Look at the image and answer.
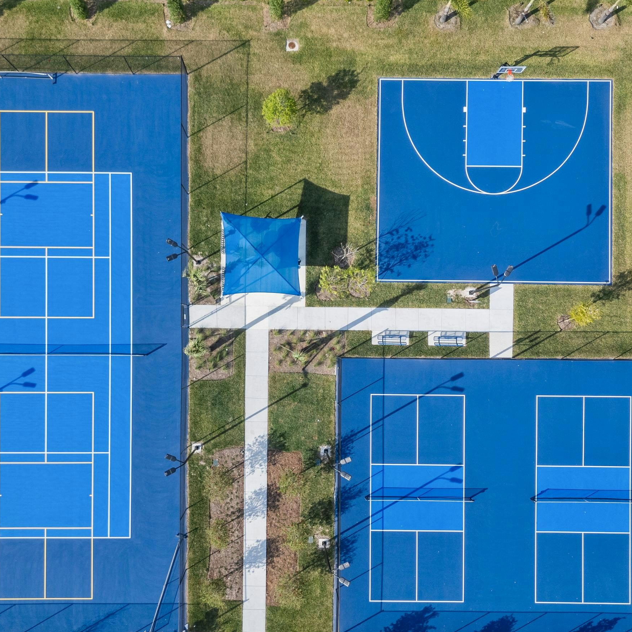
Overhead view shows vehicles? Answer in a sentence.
No, the picture doesn't show any vehicle.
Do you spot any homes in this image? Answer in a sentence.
No, no home is visible in the scene.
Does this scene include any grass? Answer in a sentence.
Yes, the picture does contain grass.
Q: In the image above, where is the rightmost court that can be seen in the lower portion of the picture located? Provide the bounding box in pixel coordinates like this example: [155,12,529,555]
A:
[535,395,632,605]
